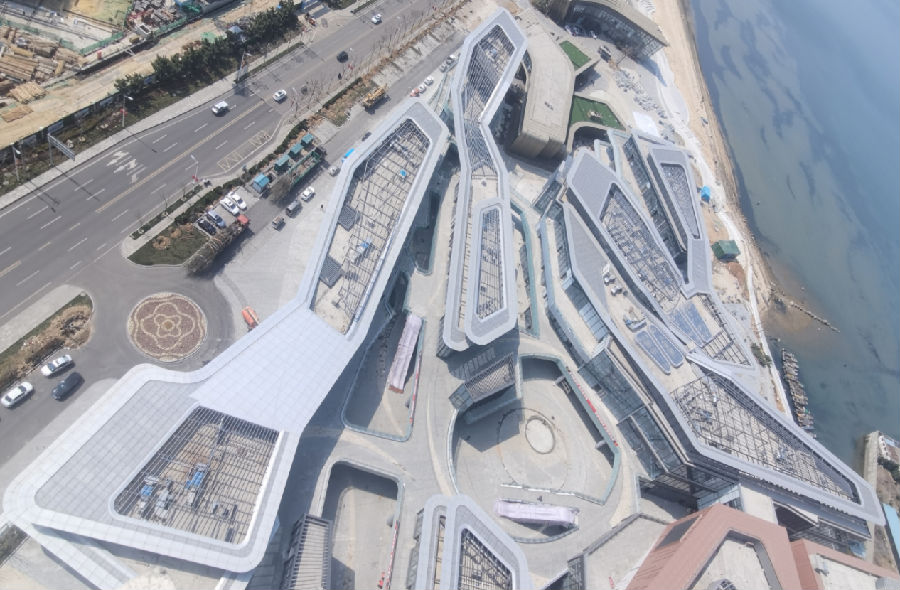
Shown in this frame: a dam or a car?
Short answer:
car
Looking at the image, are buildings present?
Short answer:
Yes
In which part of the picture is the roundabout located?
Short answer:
left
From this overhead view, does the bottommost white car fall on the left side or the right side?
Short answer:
left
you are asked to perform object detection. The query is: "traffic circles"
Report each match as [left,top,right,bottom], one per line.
[127,294,206,361]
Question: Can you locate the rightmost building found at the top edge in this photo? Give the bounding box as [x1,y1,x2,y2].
[561,0,669,62]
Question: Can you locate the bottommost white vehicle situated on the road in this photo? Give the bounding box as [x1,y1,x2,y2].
[0,382,36,405]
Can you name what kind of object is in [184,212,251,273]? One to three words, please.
truck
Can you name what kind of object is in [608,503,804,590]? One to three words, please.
building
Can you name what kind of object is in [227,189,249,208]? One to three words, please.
car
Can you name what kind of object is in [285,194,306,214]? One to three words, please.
vehicle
